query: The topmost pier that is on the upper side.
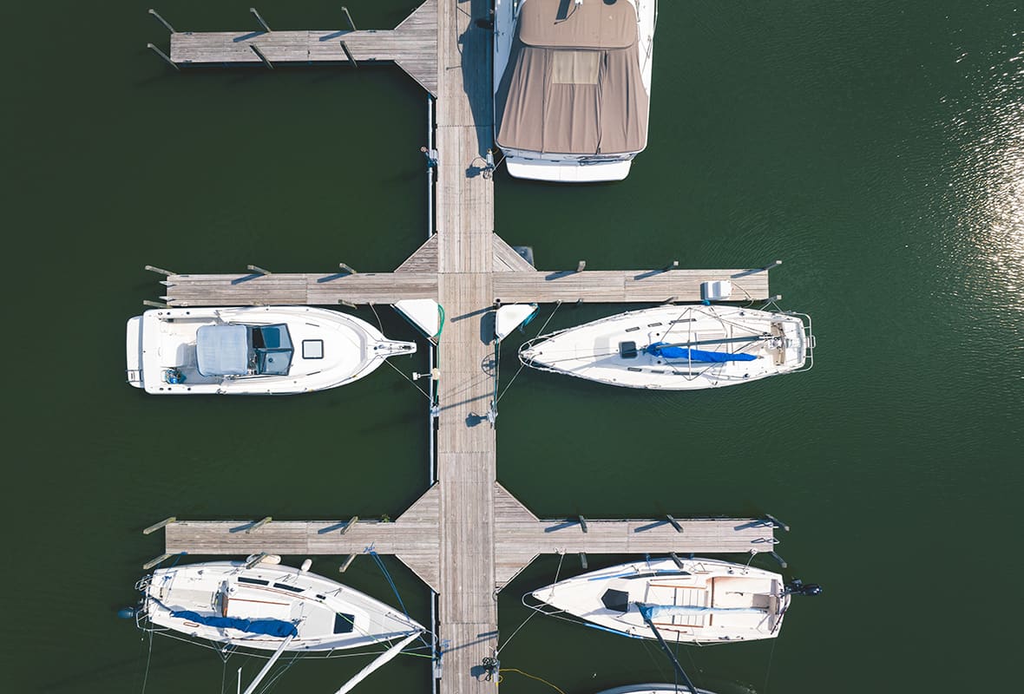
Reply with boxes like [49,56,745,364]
[171,0,437,98]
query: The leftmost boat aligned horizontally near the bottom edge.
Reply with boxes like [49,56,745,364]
[116,560,436,694]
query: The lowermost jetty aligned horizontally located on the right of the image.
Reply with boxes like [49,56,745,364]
[496,482,774,592]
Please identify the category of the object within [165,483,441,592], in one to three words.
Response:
pier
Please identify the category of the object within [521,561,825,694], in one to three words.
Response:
boat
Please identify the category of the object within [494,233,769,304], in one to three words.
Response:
pier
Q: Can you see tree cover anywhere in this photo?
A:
No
